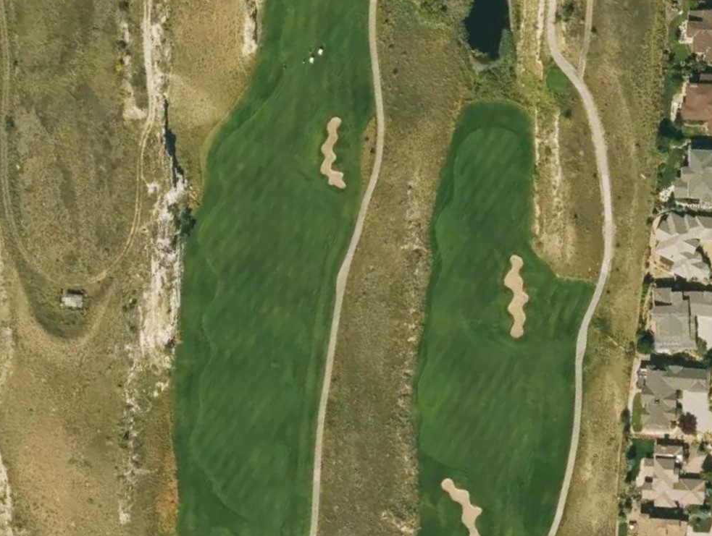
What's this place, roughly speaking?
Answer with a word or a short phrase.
golf course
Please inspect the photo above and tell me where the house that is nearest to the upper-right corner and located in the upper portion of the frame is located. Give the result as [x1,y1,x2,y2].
[687,8,712,58]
